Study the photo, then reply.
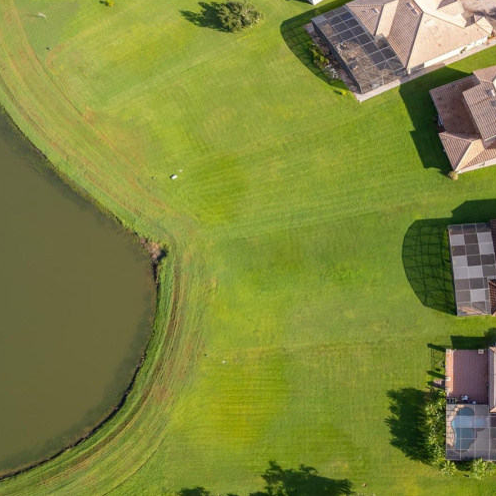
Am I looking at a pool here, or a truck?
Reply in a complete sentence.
Of the two, only a pool appears.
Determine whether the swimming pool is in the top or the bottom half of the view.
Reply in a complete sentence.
It is in the bottom half that the swimming pool appears.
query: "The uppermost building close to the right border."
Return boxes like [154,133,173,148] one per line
[346,0,493,76]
